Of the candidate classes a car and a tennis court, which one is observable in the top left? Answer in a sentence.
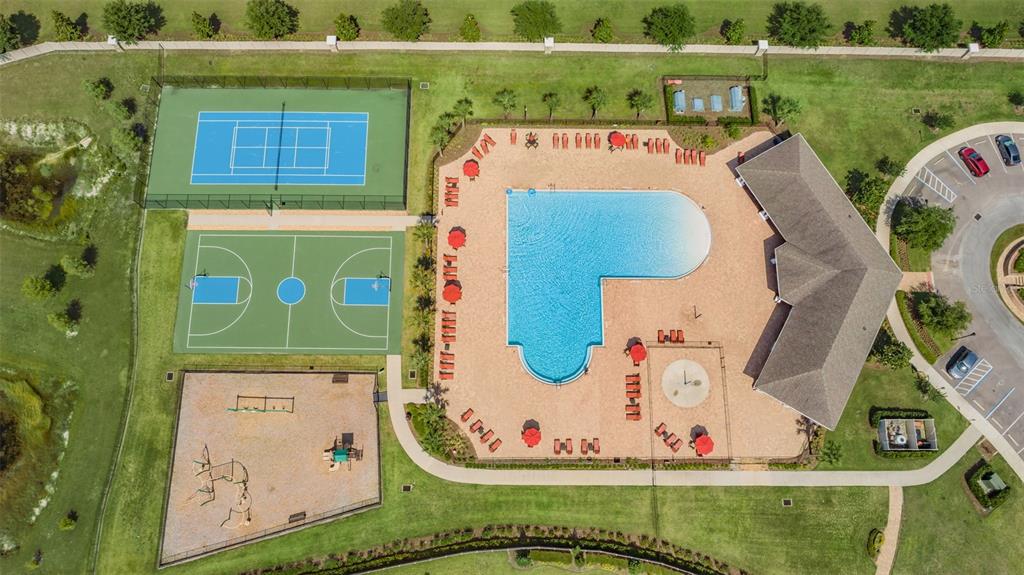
It is a tennis court that can be seen in the top left.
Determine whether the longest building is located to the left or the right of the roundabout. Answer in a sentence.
From the viewer's perspective, the longest building falls to the left of the roundabout.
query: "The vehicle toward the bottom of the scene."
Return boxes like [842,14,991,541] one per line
[947,349,978,379]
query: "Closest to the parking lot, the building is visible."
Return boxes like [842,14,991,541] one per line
[734,133,903,431]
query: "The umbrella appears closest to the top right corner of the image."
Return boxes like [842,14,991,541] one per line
[608,132,625,148]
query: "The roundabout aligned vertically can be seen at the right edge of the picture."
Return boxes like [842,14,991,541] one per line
[957,194,1024,355]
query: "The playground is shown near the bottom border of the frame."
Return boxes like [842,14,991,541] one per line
[157,369,384,570]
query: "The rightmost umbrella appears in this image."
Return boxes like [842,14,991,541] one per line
[694,434,714,454]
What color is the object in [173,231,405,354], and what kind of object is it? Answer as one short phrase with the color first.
green basketball court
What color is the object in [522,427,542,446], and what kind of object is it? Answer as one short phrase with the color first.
red umbrella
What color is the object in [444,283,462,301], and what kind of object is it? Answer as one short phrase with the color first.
red umbrella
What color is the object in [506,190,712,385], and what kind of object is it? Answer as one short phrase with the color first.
blue swimming pool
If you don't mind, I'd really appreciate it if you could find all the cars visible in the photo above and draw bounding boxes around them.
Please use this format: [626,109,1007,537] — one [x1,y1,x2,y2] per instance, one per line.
[995,136,1024,166]
[961,147,994,177]
[947,349,978,379]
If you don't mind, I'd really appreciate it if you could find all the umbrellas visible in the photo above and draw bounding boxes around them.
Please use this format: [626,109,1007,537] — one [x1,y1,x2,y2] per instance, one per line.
[694,434,714,454]
[463,160,481,178]
[608,132,625,148]
[522,427,542,446]
[448,230,466,249]
[629,344,647,363]
[444,283,462,301]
